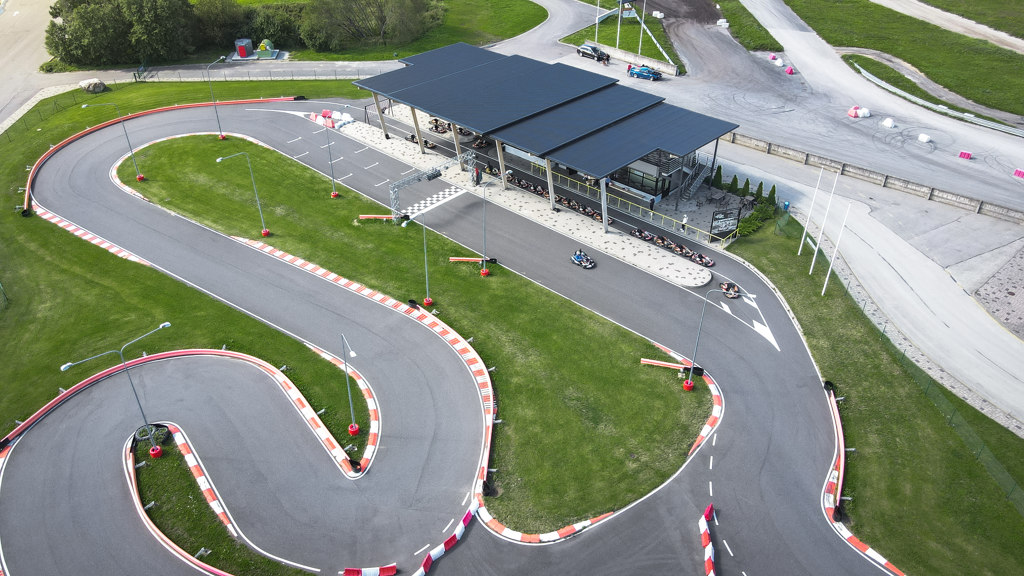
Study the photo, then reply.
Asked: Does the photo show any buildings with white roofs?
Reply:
No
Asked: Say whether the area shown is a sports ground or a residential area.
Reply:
sports ground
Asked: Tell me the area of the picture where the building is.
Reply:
top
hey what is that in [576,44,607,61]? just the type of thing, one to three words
car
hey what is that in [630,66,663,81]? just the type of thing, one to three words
car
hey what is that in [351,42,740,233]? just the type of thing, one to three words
building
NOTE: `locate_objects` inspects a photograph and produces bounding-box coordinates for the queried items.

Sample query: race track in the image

[0,95,900,576]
